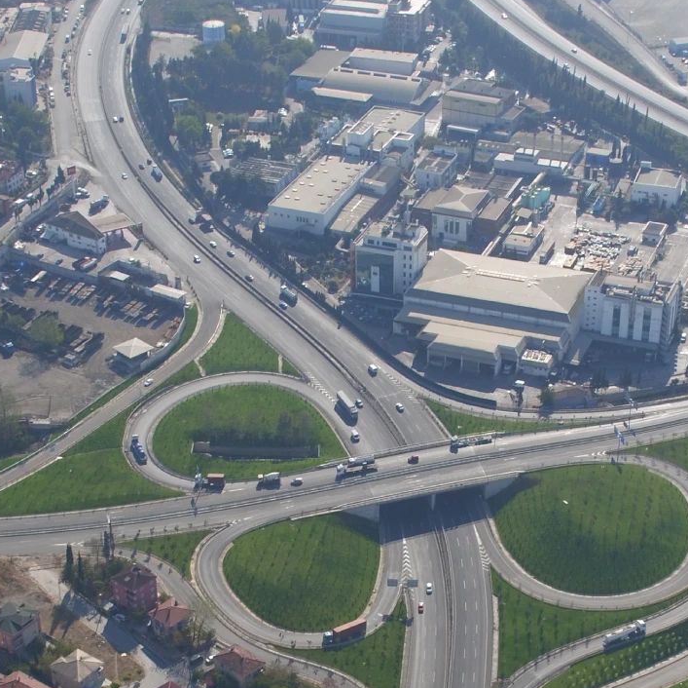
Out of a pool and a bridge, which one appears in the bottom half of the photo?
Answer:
bridge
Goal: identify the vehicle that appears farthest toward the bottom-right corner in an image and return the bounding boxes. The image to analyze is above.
[602,622,648,643]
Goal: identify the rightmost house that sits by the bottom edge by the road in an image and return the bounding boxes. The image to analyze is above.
[212,646,269,688]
